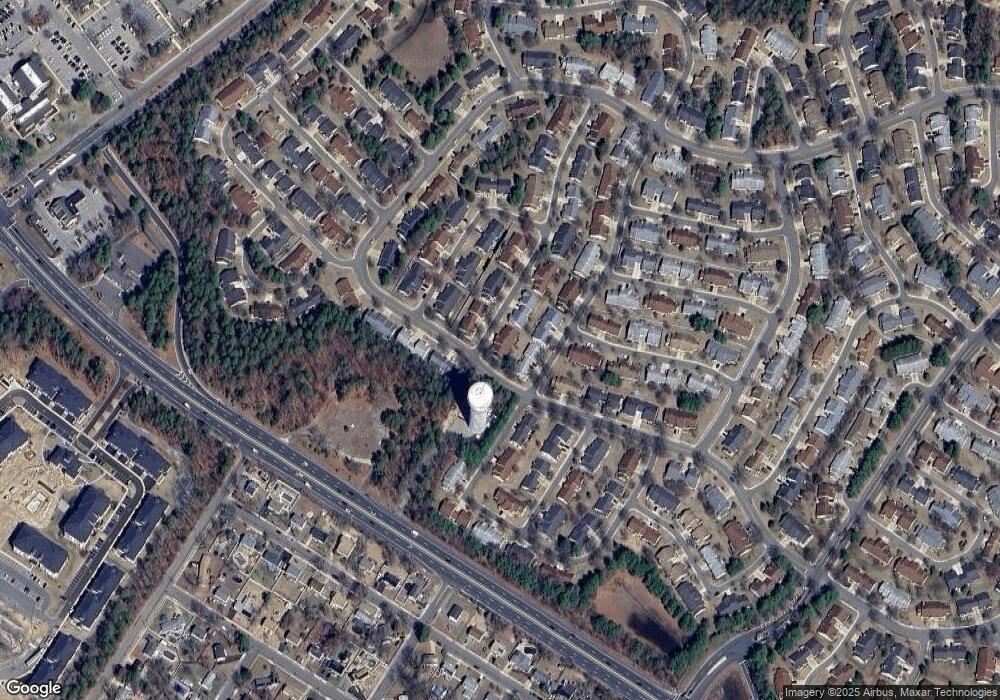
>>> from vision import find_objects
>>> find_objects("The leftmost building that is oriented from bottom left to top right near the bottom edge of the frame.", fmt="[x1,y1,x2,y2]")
[24,635,77,696]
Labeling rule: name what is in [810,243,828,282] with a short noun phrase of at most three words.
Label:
house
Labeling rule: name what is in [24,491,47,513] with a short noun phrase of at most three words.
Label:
swimming pool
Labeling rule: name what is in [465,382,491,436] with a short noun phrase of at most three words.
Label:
water tower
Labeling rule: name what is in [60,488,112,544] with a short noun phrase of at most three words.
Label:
building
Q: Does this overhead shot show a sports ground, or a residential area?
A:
residential area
